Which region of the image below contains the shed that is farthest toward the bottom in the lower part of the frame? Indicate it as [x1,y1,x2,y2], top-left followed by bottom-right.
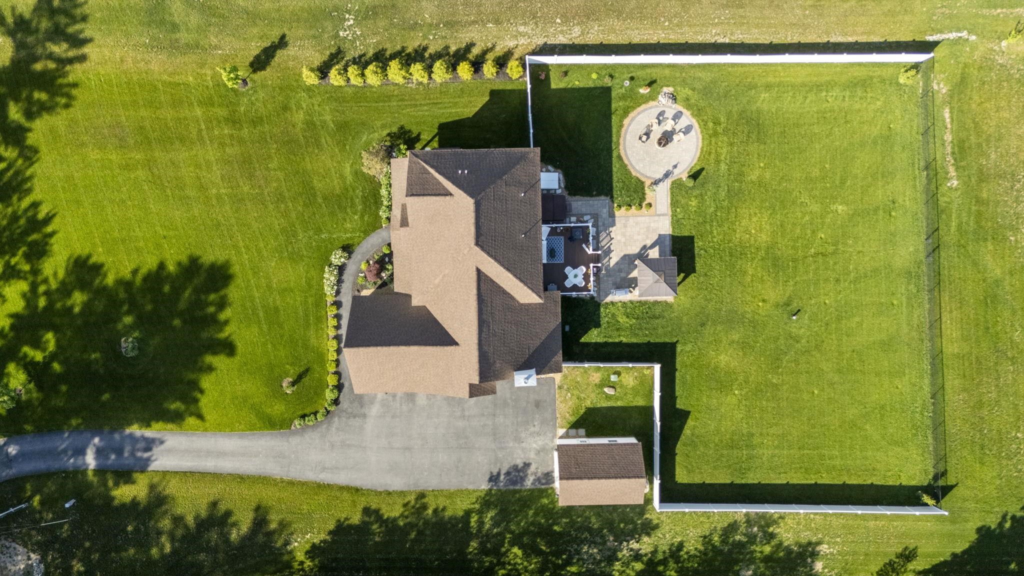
[554,439,646,506]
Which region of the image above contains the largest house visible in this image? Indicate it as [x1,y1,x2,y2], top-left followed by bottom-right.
[343,149,563,400]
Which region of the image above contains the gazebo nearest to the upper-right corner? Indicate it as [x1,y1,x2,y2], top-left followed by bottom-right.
[634,256,678,298]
